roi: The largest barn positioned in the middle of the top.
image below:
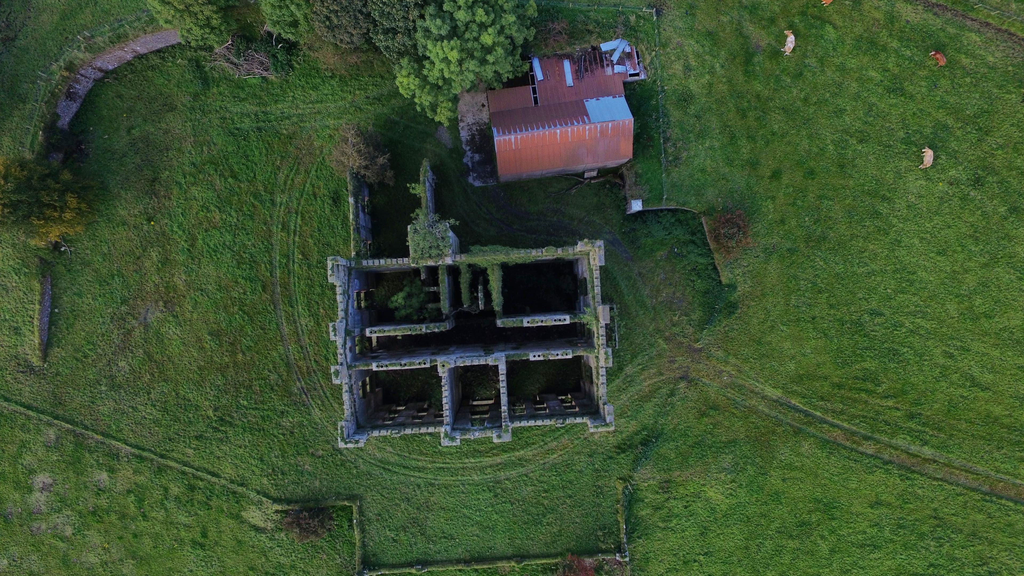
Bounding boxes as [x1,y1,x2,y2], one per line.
[489,47,634,181]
